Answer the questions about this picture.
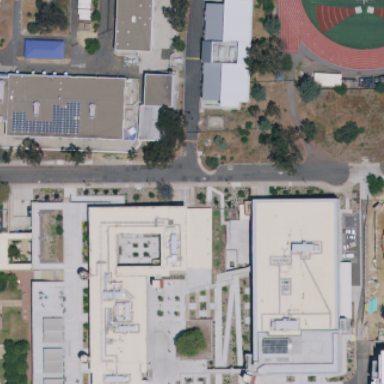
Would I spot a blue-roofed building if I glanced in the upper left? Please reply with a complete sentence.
Yes, in the upper left there is a blue-roofed building.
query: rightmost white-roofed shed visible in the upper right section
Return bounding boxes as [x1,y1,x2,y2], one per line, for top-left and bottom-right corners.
[313,74,342,88]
